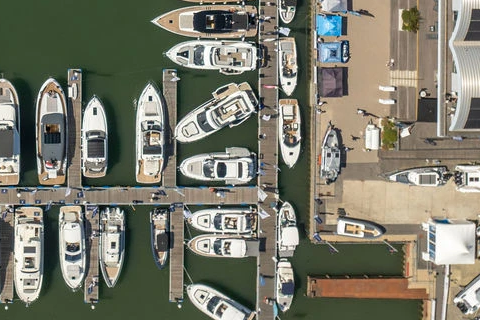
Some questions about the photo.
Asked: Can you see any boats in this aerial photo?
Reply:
Yes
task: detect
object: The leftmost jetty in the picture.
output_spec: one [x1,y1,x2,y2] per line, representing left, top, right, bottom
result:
[0,205,13,304]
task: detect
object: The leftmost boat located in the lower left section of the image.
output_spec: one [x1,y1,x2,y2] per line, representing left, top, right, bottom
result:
[12,206,45,306]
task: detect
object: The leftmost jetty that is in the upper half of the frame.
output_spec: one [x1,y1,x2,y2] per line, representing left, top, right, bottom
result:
[68,68,82,184]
